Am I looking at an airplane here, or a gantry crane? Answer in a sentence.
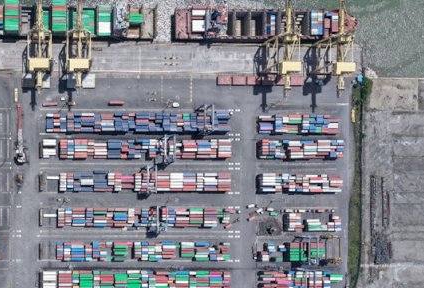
The one in the frame is a gantry crane.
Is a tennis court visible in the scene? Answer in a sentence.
No, no tennis court is visible in the view.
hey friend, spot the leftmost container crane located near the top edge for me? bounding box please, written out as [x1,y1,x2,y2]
[26,0,56,93]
